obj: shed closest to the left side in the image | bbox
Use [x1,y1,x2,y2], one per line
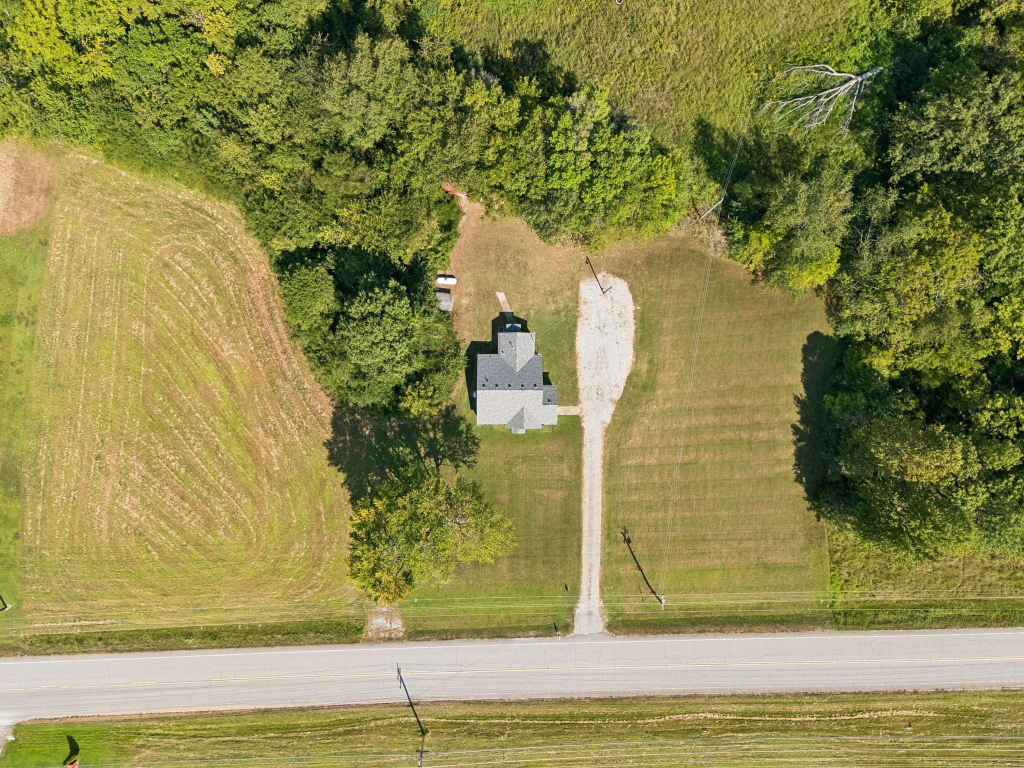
[436,288,453,311]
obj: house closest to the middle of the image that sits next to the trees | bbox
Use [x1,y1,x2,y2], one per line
[476,324,559,433]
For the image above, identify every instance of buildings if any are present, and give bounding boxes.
[436,288,453,311]
[476,324,559,433]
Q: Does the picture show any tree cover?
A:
Yes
